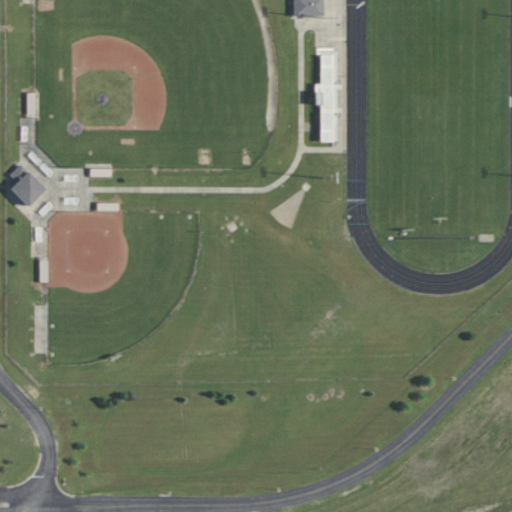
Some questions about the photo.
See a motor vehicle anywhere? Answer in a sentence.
No, I find no motor vehicle anywhere in the image.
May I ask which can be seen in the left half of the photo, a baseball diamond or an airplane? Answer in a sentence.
You can see a baseball diamond in the left half of the photo.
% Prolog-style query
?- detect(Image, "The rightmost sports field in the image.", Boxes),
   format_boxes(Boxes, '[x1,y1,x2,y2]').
[366,0,510,274]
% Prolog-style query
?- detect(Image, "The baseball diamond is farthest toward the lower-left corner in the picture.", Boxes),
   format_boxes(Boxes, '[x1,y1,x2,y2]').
[48,211,201,364]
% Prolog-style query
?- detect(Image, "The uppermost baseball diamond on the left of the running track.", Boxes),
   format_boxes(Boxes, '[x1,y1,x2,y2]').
[34,0,276,169]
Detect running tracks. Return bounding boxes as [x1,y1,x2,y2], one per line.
[346,0,512,295]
